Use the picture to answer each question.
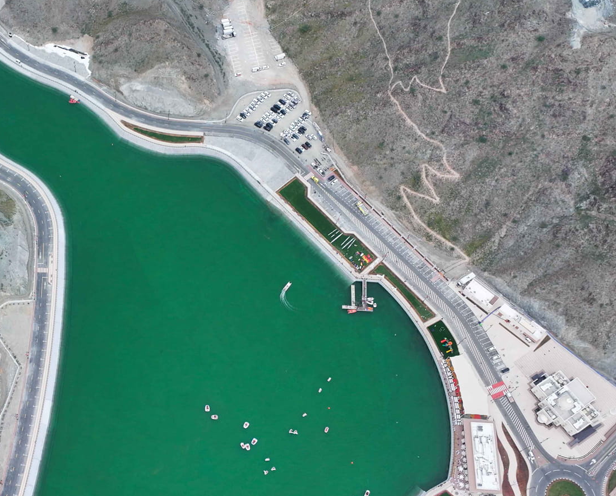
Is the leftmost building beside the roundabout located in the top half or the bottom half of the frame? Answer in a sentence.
The bottom half of the photo is where the leftmost building beside the roundabout is.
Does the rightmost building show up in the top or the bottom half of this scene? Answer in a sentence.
The bottom half of the photo is where the rightmost building is.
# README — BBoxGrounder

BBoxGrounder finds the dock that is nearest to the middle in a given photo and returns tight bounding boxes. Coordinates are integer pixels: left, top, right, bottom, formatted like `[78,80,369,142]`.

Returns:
[342,280,373,312]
